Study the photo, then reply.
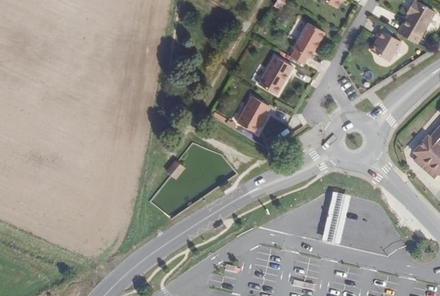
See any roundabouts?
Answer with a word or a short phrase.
Yes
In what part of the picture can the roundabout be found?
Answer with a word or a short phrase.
right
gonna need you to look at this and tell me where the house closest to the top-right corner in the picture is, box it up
[398,2,437,44]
